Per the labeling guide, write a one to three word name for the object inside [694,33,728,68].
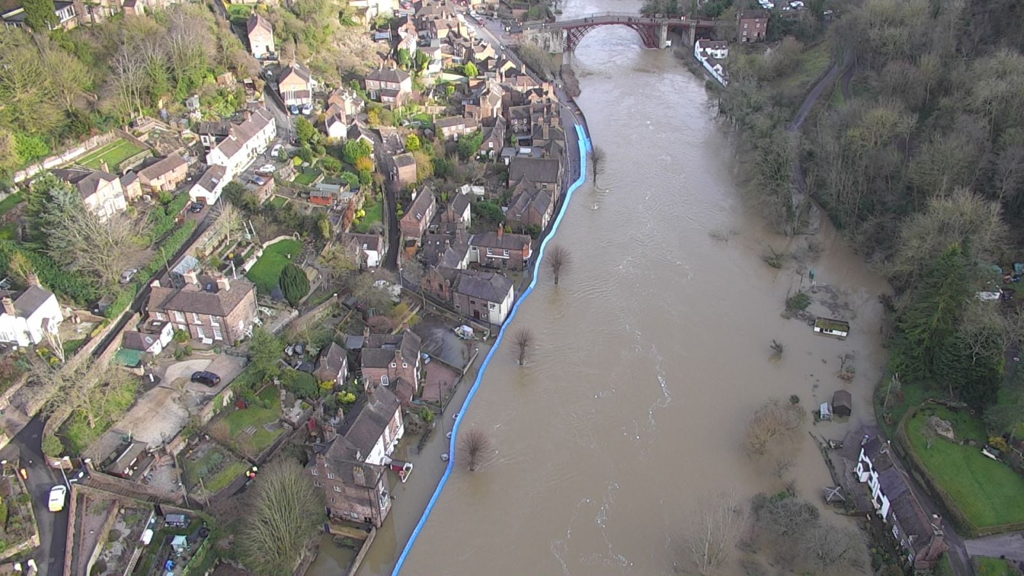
house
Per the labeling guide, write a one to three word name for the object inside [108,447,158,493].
shed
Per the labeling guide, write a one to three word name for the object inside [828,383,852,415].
shed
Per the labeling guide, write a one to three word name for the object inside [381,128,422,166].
building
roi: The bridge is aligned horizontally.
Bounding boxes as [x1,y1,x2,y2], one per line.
[517,10,733,60]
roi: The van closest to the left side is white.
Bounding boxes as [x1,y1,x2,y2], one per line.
[38,482,71,511]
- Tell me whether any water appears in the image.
Yes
